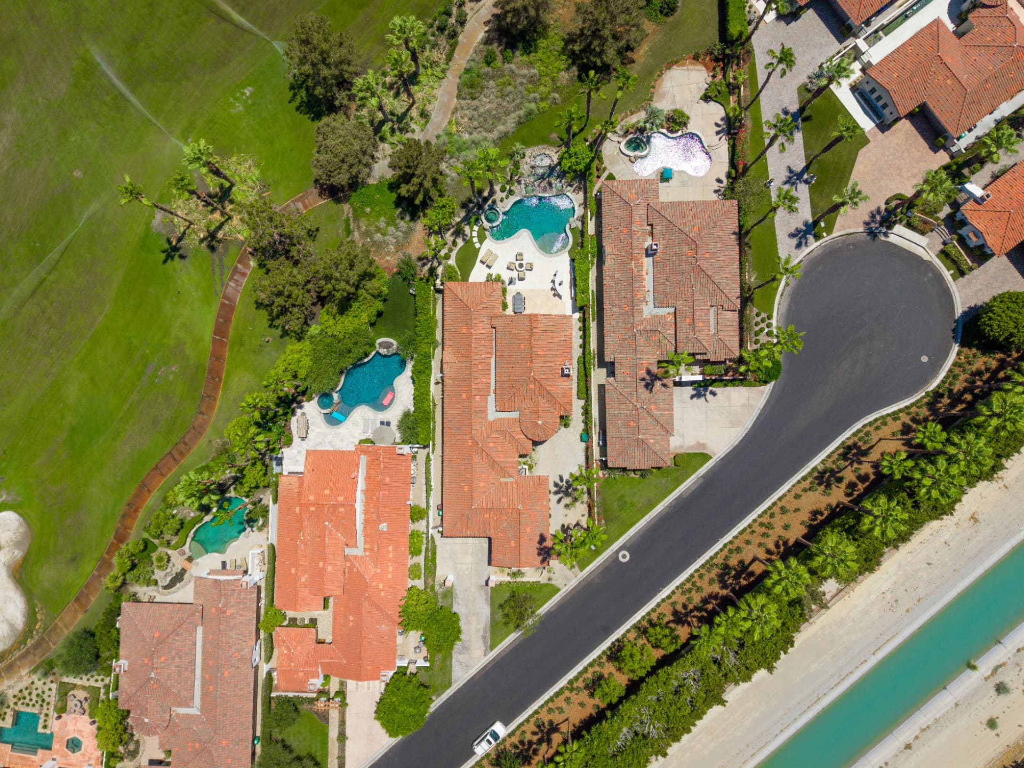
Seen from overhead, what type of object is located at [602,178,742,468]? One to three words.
house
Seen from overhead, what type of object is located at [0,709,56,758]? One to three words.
swimming pool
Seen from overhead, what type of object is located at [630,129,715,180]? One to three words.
swimming pool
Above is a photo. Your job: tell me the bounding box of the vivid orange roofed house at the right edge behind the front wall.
[947,160,1024,259]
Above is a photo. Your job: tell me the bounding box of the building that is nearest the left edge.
[113,565,266,768]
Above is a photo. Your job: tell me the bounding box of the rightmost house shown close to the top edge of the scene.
[855,0,1024,142]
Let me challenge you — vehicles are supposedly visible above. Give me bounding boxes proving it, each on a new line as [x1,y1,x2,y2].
[467,721,509,763]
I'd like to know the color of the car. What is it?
white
